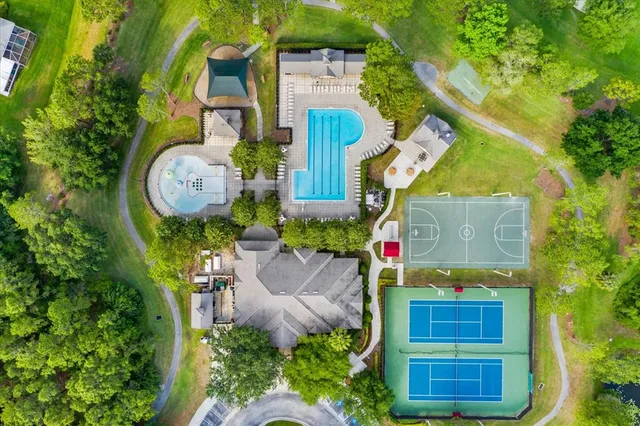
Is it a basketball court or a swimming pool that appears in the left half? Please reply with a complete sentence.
Visible in the left half is a swimming pool.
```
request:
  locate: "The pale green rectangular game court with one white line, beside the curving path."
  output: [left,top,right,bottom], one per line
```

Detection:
[447,59,491,105]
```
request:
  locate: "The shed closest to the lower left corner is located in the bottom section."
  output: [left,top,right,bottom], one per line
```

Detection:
[191,292,214,330]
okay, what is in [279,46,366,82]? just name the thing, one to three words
building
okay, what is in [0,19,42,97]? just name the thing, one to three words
house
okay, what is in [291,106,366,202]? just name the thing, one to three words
swimming pool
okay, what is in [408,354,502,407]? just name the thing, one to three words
tennis court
